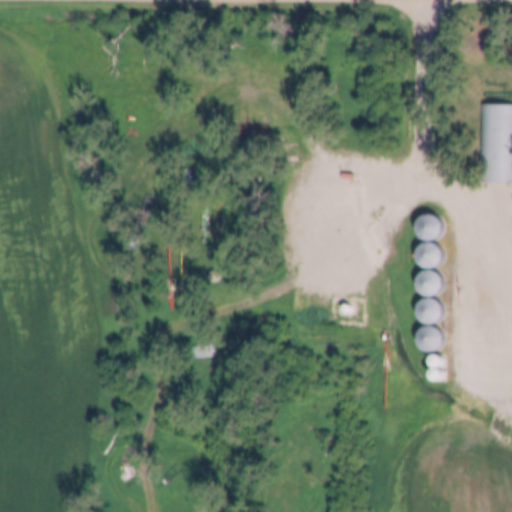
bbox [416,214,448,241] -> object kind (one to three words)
silo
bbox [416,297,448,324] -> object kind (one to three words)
silo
